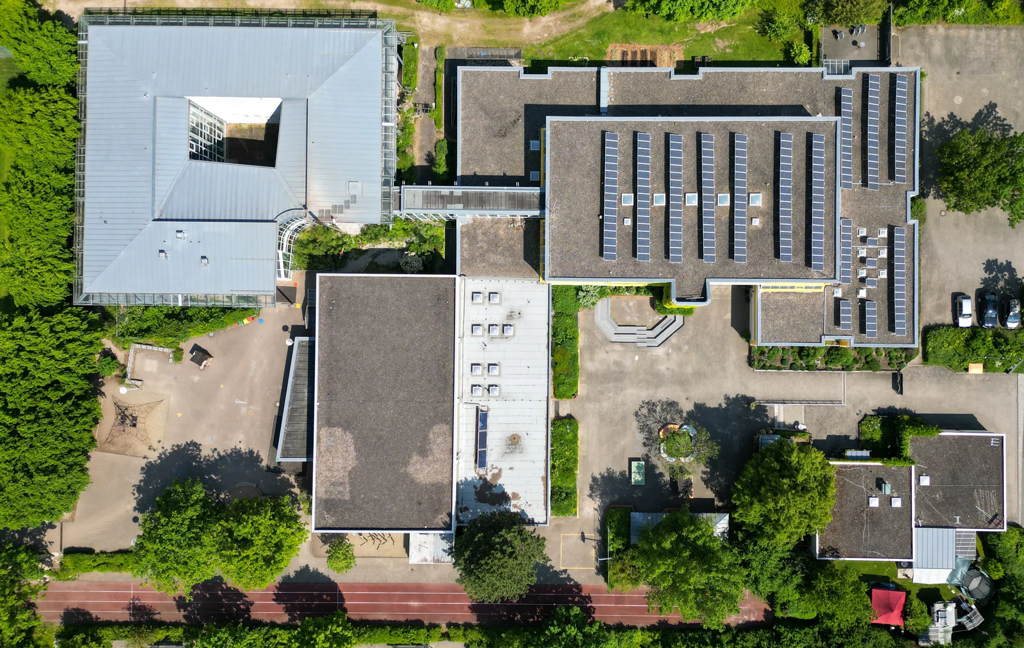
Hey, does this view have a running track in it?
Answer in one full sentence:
Yes, a running track can be made out from above.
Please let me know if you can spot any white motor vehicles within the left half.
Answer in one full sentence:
No, no white motor vehicle is visible within the left half.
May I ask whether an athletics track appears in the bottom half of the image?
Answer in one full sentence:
Yes, an athletics track can be seen in the bottom half of the image.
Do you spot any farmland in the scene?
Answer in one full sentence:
No, the picture contains no farmland.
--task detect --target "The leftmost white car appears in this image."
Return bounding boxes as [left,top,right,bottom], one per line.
[954,294,974,327]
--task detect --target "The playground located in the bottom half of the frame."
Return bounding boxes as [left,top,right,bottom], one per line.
[39,274,451,584]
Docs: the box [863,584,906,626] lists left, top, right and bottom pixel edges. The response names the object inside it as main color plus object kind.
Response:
red gazebo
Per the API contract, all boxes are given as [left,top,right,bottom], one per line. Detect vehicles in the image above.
[954,294,974,327]
[978,292,1000,328]
[1001,297,1023,329]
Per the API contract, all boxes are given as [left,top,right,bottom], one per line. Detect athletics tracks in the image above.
[31,582,774,628]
